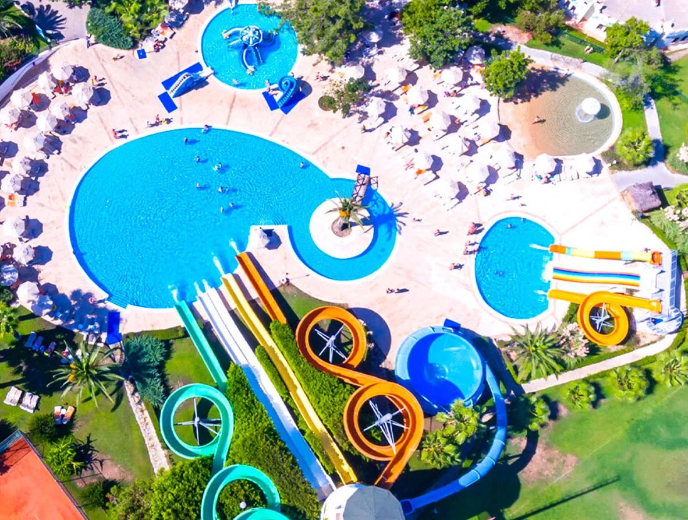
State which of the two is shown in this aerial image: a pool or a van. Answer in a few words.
pool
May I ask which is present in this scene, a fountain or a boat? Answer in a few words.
fountain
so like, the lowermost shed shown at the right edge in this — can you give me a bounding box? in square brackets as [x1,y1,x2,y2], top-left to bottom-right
[619,182,659,215]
